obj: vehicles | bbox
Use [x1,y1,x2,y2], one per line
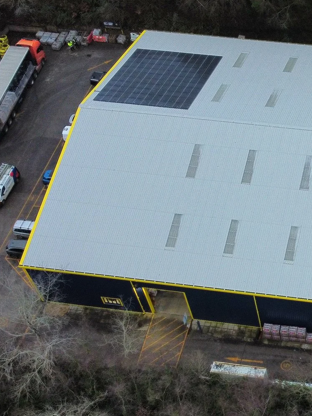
[68,116,76,126]
[40,171,54,191]
[0,37,50,138]
[7,242,26,263]
[60,125,72,145]
[0,165,20,209]
[11,223,34,245]
[90,71,110,87]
